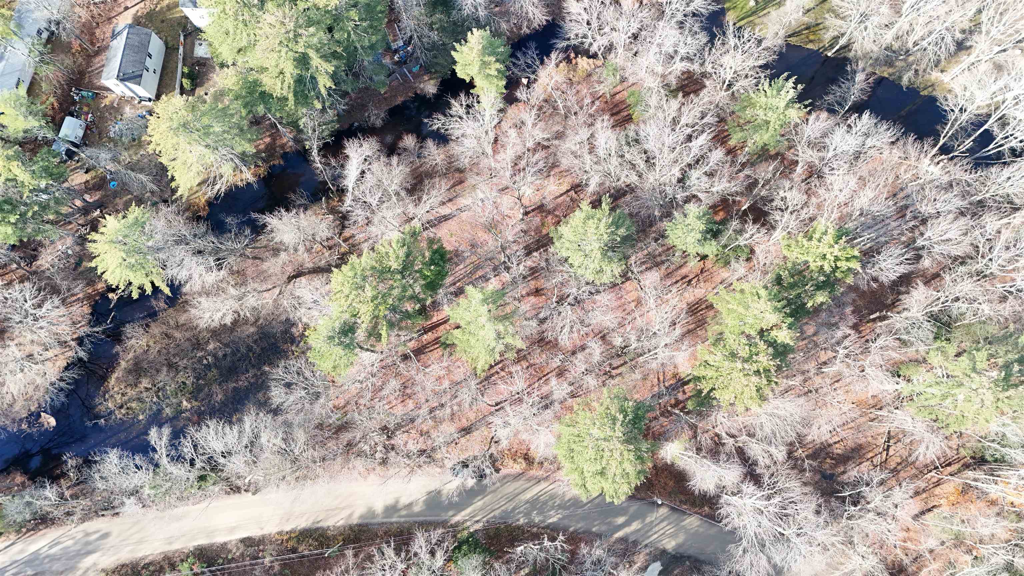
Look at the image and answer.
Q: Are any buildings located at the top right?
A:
No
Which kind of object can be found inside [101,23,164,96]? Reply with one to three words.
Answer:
house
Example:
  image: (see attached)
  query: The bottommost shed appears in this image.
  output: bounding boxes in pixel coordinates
[55,114,86,144]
